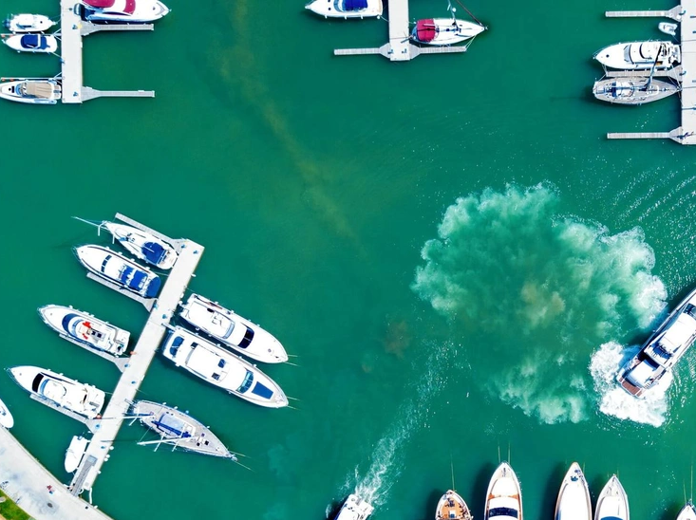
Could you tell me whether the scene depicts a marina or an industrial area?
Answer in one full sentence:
This looks like a marina.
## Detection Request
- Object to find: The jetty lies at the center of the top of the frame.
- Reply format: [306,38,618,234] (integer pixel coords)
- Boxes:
[334,0,466,63]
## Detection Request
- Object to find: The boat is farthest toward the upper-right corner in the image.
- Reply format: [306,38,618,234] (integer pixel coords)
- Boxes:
[659,21,678,36]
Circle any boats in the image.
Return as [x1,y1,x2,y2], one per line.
[0,78,62,106]
[335,495,372,520]
[80,0,167,30]
[157,321,297,407]
[595,40,679,75]
[3,31,60,54]
[38,307,137,358]
[80,213,178,270]
[75,247,162,300]
[659,21,678,36]
[308,0,387,22]
[5,13,60,35]
[67,433,88,472]
[593,463,626,520]
[484,441,523,520]
[436,485,472,520]
[0,397,12,426]
[181,296,296,363]
[550,443,590,520]
[408,0,484,47]
[101,395,250,469]
[615,291,696,401]
[592,49,684,107]
[11,367,112,416]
